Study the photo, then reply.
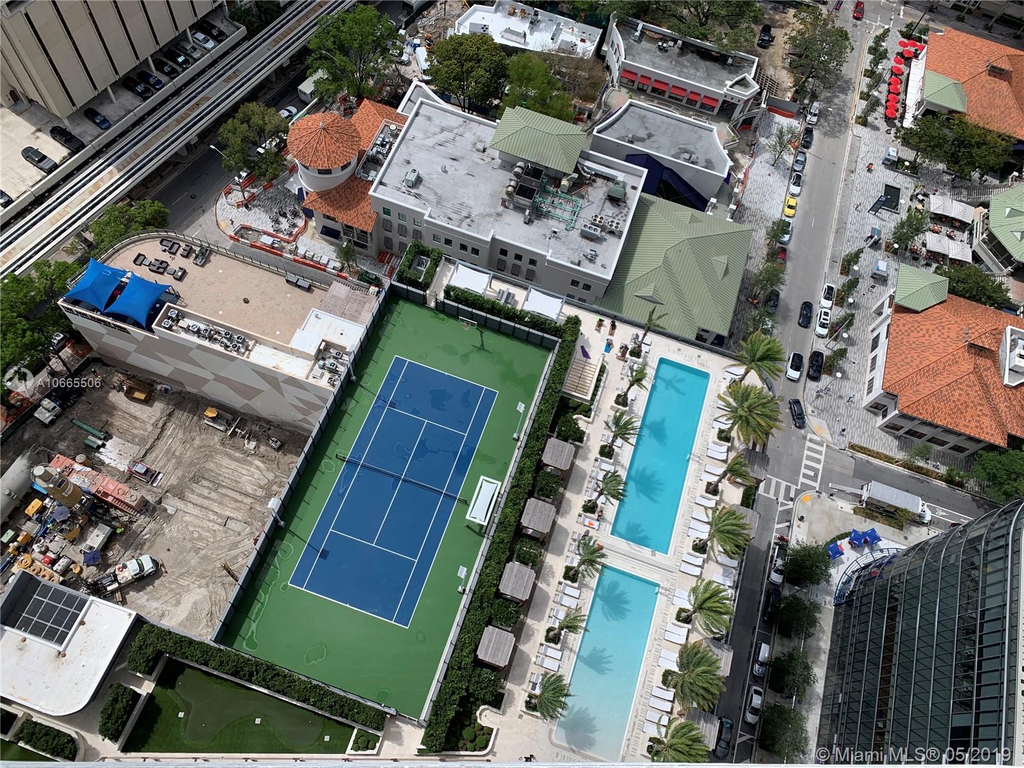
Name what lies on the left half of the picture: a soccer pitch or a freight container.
freight container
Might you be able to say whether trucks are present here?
Yes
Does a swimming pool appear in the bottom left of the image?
No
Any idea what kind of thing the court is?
tennis court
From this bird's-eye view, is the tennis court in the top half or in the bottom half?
bottom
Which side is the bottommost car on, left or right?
right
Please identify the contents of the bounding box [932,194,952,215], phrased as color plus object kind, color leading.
white umbrella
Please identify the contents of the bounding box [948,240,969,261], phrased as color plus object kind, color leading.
white umbrella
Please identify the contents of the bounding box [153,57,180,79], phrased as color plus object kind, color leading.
black car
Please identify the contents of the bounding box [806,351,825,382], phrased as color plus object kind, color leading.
black vehicle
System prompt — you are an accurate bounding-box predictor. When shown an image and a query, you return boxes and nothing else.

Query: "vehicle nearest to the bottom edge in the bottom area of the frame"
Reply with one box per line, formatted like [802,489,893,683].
[713,717,735,761]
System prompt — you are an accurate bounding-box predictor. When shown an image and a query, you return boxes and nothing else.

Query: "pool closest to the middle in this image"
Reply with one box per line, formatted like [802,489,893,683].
[604,355,712,558]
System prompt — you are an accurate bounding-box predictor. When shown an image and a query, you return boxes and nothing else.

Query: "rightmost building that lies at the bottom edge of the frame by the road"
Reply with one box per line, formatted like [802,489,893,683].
[820,493,1024,761]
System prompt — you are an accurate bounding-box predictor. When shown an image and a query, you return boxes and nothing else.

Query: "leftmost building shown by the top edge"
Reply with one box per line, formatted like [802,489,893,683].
[0,0,228,134]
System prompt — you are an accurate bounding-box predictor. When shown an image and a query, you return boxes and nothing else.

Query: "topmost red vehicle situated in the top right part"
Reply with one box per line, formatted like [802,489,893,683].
[852,1,864,19]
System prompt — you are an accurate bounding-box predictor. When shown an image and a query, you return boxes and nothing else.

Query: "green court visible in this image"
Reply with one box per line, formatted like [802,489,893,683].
[217,293,555,721]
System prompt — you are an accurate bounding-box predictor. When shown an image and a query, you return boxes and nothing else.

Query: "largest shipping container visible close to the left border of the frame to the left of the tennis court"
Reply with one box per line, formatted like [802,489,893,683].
[48,452,151,520]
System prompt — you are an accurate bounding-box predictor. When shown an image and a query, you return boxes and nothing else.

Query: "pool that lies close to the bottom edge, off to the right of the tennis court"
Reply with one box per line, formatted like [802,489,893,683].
[546,564,665,762]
